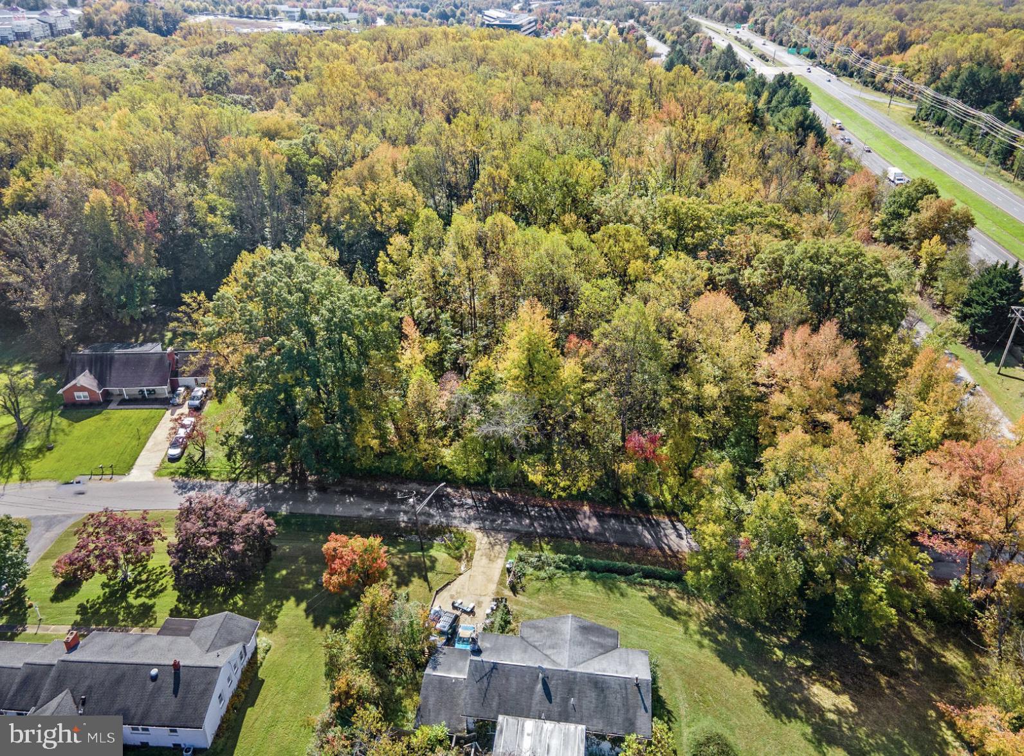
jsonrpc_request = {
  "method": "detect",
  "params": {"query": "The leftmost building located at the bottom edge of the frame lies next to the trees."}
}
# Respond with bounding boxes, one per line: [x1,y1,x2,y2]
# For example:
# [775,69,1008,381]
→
[0,606,255,756]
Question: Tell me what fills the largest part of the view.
trees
